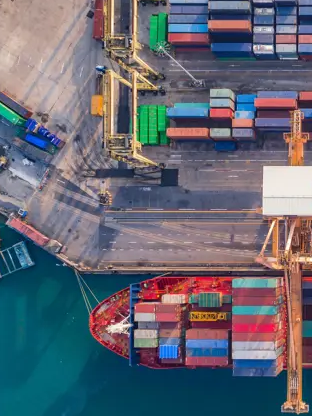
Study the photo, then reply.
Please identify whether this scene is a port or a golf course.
port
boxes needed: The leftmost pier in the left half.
[0,241,38,282]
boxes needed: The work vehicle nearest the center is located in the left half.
[98,189,114,209]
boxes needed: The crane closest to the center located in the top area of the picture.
[104,73,166,168]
